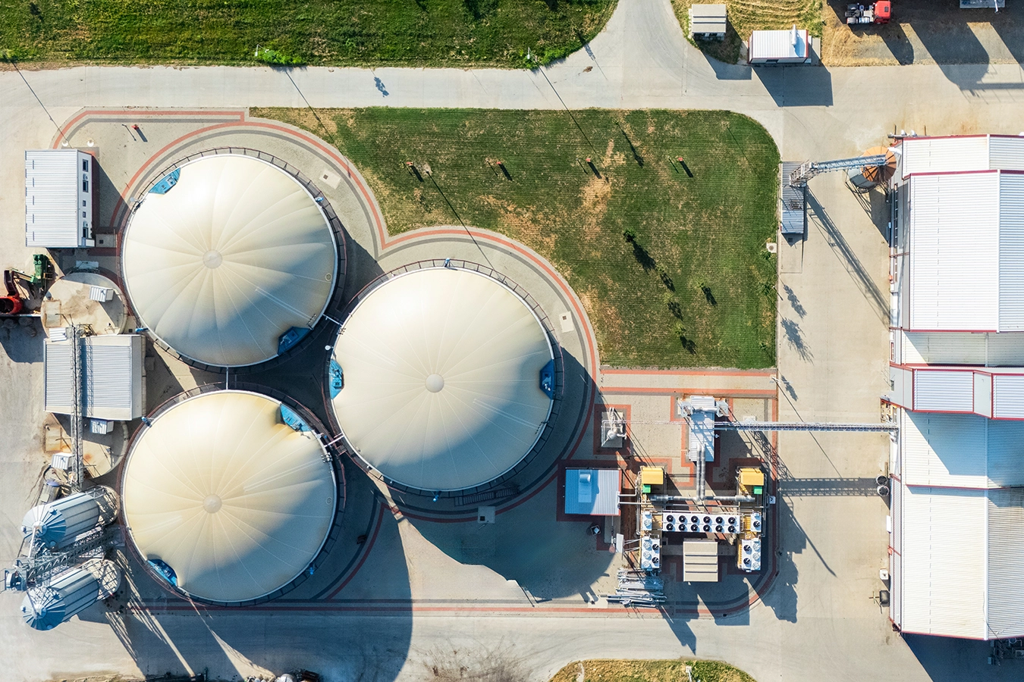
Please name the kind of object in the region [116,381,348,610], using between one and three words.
storage tank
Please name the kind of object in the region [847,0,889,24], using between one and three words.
truck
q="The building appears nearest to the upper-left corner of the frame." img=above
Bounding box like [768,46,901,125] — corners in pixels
[25,150,98,248]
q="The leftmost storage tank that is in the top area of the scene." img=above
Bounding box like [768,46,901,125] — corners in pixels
[116,146,349,375]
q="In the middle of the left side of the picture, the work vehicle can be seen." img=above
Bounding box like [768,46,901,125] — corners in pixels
[9,253,48,292]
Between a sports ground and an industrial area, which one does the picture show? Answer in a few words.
industrial area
